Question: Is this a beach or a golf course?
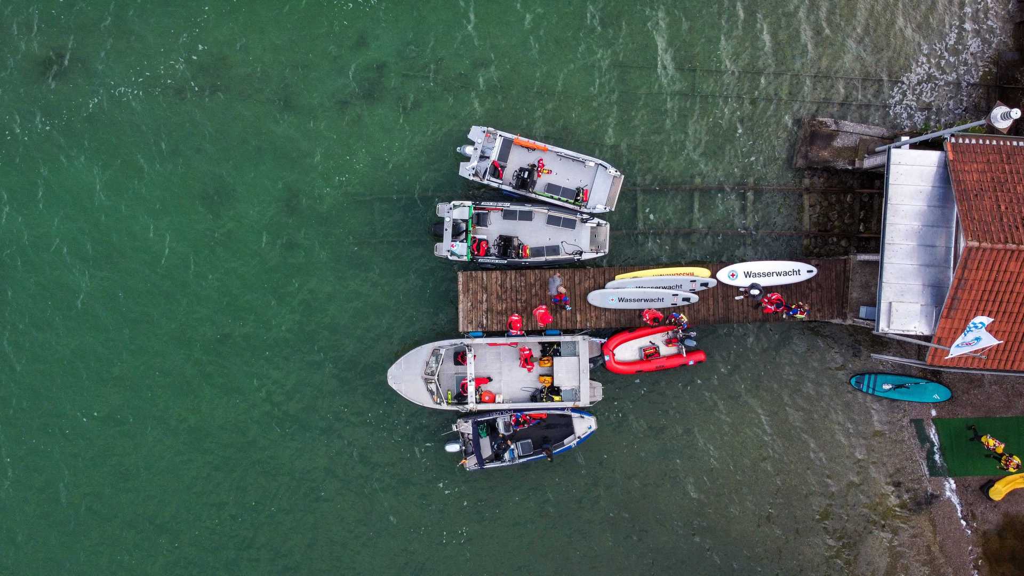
beach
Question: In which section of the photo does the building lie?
right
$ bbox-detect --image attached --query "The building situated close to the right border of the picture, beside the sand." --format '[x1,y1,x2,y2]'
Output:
[874,131,1024,372]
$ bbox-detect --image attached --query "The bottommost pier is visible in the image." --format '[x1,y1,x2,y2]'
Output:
[458,257,847,332]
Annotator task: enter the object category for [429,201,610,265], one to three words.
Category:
boat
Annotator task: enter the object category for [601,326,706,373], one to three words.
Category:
boat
